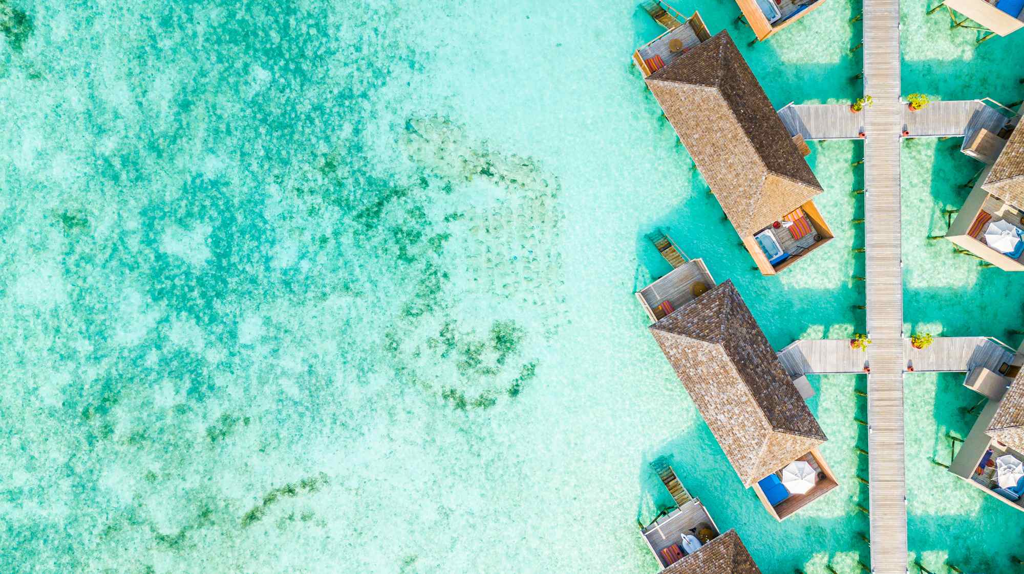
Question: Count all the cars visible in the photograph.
0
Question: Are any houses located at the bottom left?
No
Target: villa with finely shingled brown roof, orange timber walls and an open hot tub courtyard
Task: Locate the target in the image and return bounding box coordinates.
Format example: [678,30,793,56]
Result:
[627,0,833,274]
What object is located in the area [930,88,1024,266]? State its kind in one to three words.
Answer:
house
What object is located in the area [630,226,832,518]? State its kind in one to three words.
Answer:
house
